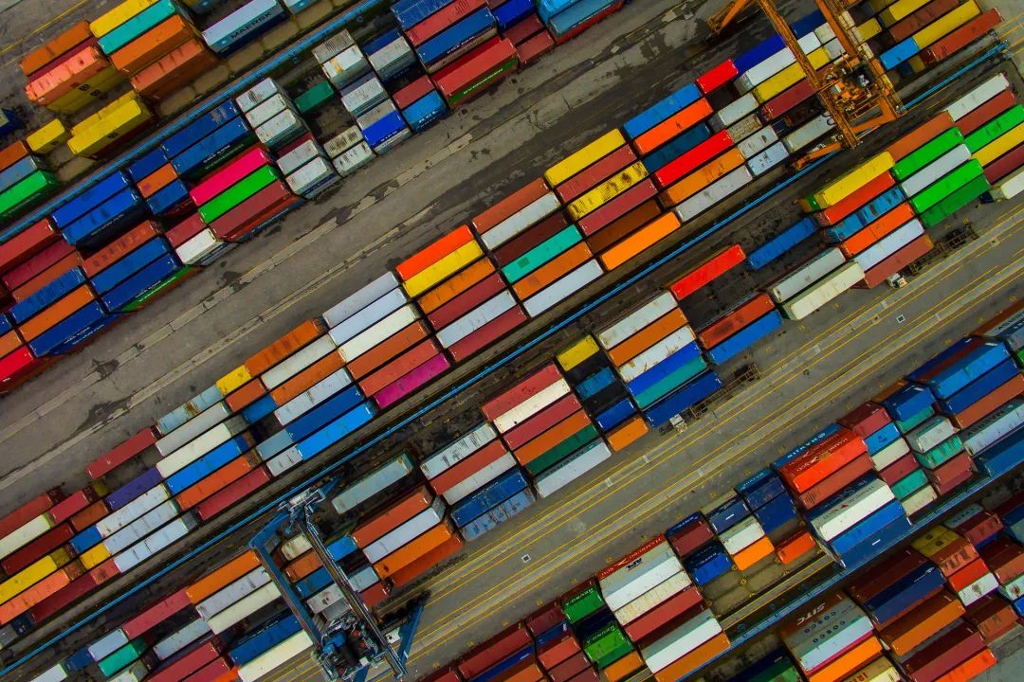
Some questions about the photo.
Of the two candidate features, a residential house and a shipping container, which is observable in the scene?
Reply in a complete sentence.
The image shows a shipping container.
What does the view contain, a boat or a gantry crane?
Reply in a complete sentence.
Of the two, only a gantry crane appears.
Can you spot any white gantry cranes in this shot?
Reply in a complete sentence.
No, I can't see a single white gantry crane in this photo.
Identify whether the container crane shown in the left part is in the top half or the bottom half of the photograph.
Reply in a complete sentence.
Seen from above, the container crane shown in the left part lies in the bottom half of the view.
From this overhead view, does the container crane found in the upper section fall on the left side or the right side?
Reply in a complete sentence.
You can find the container crane found in the upper section on the right side of the picture.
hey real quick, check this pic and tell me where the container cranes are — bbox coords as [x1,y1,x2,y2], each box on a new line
[239,466,443,682]
[686,0,920,190]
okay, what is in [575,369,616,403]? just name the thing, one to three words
shipping container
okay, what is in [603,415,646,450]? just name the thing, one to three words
shipping container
